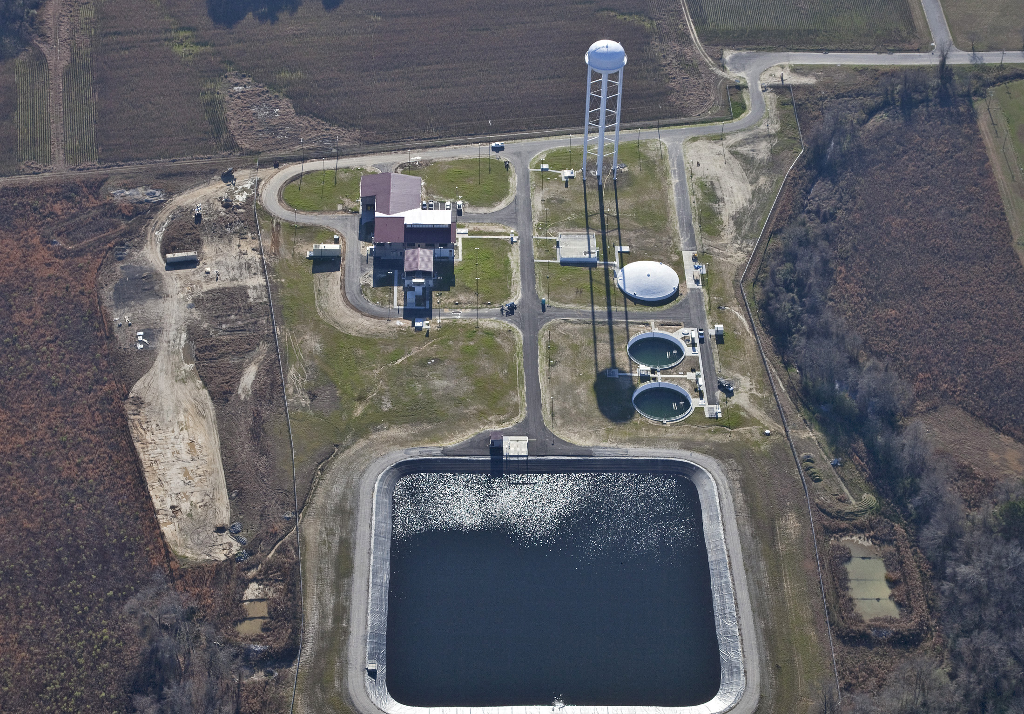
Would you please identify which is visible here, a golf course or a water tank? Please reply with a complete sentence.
The one in the frame is a water tank.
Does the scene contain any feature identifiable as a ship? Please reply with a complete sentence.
No, this view has no ship in it.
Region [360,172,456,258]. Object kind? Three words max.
building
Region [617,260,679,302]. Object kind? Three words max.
storage tank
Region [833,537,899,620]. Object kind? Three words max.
pond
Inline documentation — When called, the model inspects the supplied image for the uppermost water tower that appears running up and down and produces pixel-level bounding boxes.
[581,40,626,185]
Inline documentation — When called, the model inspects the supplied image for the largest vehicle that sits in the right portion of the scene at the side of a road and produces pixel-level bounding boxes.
[714,376,738,392]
